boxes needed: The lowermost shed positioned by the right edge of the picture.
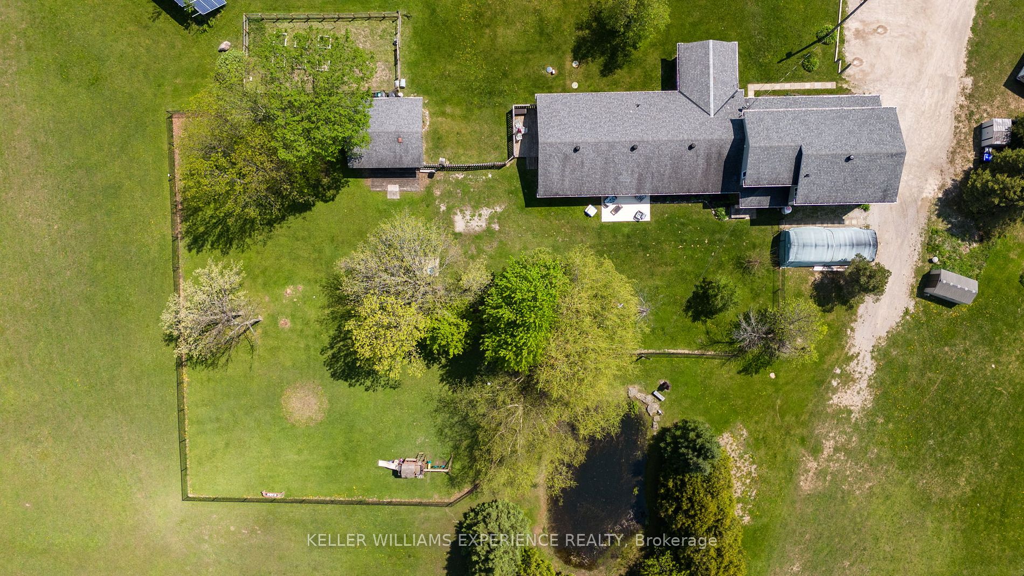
[921,269,977,304]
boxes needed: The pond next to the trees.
[546,413,647,561]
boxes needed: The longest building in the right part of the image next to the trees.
[535,38,907,209]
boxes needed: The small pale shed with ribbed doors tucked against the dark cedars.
[981,118,1016,146]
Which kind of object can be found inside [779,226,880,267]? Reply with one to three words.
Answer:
building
